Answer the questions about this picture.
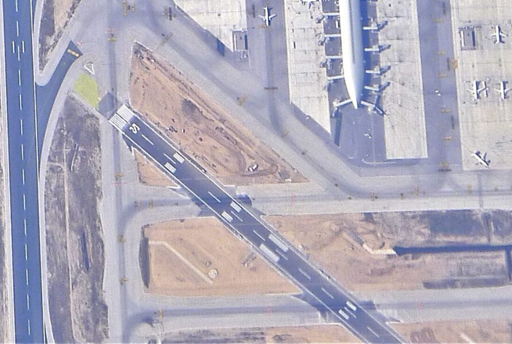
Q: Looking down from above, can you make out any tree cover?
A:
No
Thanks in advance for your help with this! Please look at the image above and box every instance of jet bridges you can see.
[319,35,342,44]
[363,82,388,91]
[325,76,346,86]
[317,12,340,21]
[321,55,343,63]
[363,100,385,115]
[361,21,385,29]
[334,99,352,115]
[363,45,387,52]
[364,65,389,73]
